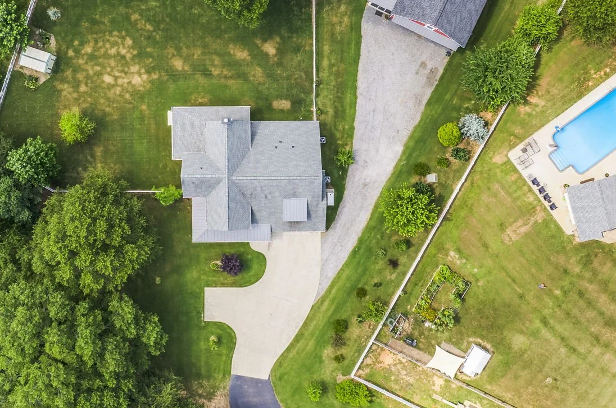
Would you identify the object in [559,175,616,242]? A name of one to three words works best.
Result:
building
